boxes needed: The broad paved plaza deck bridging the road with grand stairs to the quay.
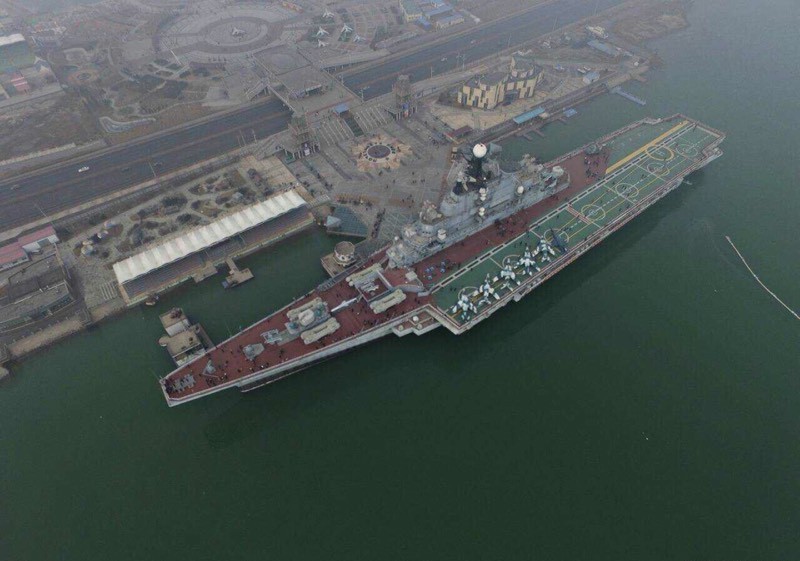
[245,43,392,146]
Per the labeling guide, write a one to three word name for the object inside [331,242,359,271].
building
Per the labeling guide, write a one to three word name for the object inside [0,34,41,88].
building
